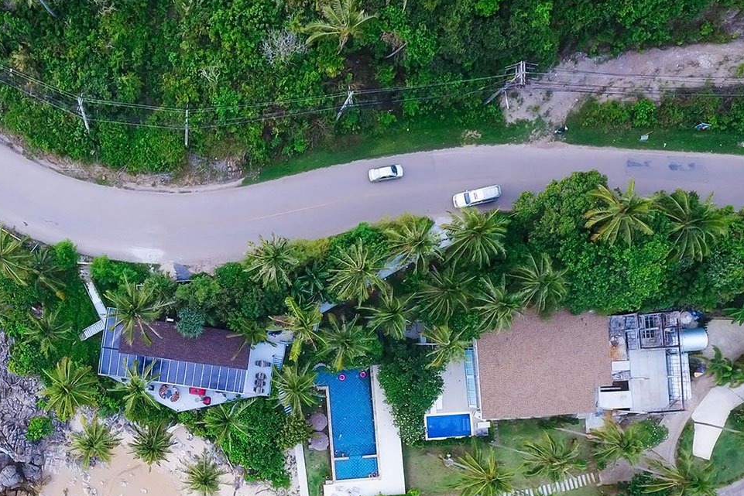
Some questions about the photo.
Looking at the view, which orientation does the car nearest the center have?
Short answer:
horizontally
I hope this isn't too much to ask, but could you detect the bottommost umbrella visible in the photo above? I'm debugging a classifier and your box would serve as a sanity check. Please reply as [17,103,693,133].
[310,431,331,451]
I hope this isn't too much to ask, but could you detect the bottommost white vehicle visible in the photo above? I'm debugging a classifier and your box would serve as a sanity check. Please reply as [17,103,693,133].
[452,184,503,208]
